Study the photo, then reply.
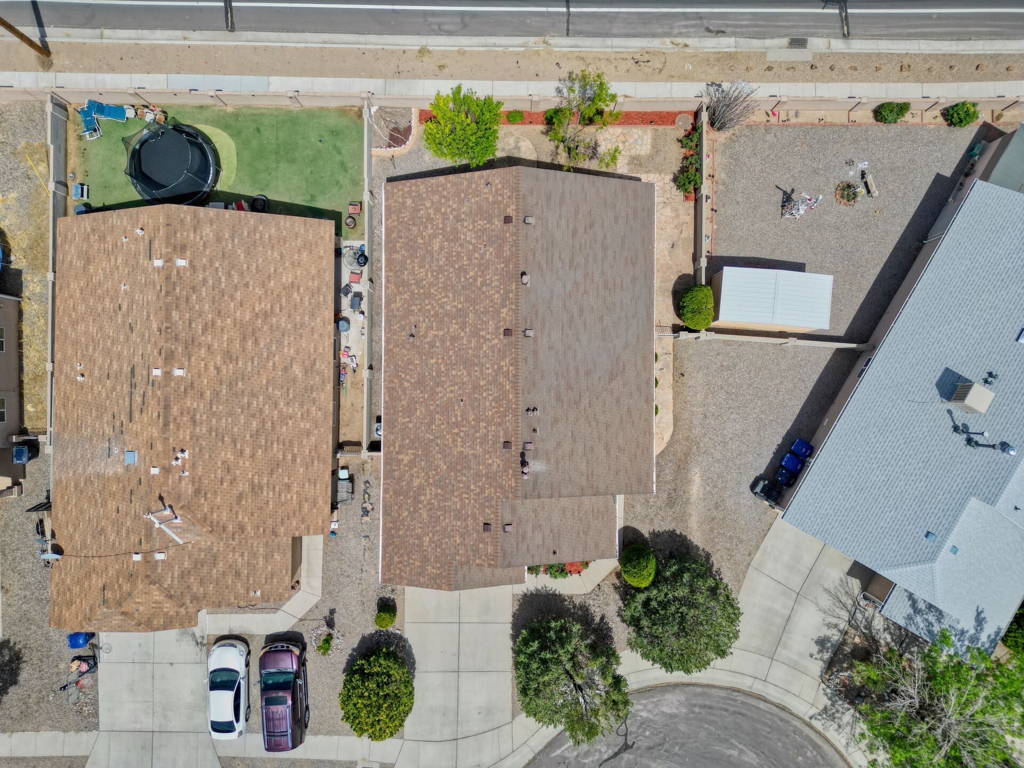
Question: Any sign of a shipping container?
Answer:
No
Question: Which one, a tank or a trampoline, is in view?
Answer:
trampoline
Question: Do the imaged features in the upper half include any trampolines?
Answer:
Yes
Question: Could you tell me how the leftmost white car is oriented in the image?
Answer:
up and down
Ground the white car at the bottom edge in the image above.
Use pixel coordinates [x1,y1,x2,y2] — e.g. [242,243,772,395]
[202,637,254,740]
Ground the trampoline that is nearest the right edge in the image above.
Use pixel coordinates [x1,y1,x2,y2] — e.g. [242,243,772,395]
[121,114,221,206]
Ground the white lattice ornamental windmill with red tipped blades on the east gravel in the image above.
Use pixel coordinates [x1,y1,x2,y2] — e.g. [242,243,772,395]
[781,195,823,220]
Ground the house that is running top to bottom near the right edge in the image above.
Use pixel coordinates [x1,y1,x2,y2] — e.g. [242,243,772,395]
[775,120,1024,646]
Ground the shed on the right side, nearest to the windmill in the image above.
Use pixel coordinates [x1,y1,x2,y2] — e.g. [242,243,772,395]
[712,266,833,333]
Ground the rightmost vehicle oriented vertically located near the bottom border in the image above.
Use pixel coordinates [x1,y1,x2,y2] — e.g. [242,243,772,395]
[256,638,309,748]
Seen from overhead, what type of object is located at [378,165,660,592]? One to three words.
house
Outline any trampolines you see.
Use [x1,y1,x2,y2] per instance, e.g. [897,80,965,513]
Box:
[0,227,14,291]
[121,114,221,206]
